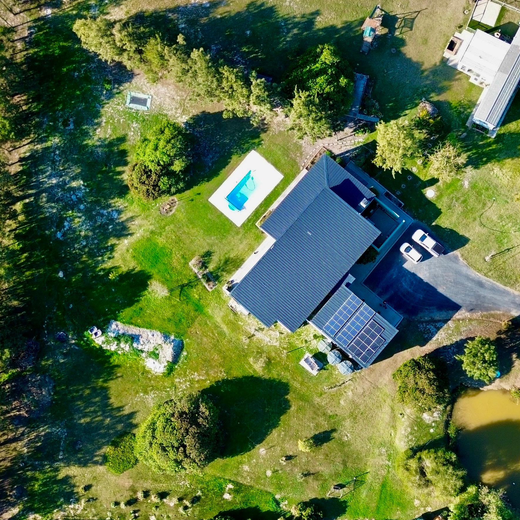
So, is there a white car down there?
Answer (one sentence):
Yes, there's a white car here.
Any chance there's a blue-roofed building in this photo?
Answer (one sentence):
Yes, the picture does show a blue-roofed building.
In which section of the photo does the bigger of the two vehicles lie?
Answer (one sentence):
Look in the right portion of the view to spot the bigger of the two vehicles.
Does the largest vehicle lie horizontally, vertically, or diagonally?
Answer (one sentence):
The largest vehicle is laid out diagonally.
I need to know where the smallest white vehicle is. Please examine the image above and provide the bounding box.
[398,241,424,266]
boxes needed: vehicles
[398,241,424,266]
[412,228,445,262]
